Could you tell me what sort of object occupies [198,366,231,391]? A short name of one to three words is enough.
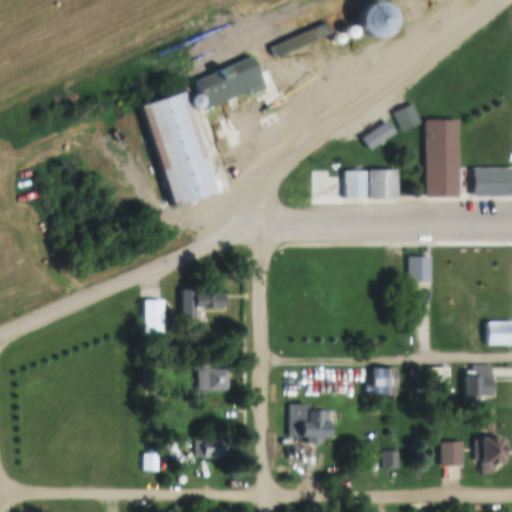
house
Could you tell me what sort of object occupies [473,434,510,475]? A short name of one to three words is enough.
house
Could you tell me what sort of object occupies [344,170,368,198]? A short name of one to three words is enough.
building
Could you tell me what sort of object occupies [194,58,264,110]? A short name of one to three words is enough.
shed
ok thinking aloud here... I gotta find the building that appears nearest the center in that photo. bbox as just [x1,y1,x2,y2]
[182,289,230,321]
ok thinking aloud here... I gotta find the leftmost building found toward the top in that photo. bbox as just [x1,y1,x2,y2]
[142,92,218,204]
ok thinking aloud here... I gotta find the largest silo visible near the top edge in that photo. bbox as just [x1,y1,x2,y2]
[360,2,403,40]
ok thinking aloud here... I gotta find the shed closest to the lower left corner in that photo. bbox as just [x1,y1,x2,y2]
[142,451,160,472]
